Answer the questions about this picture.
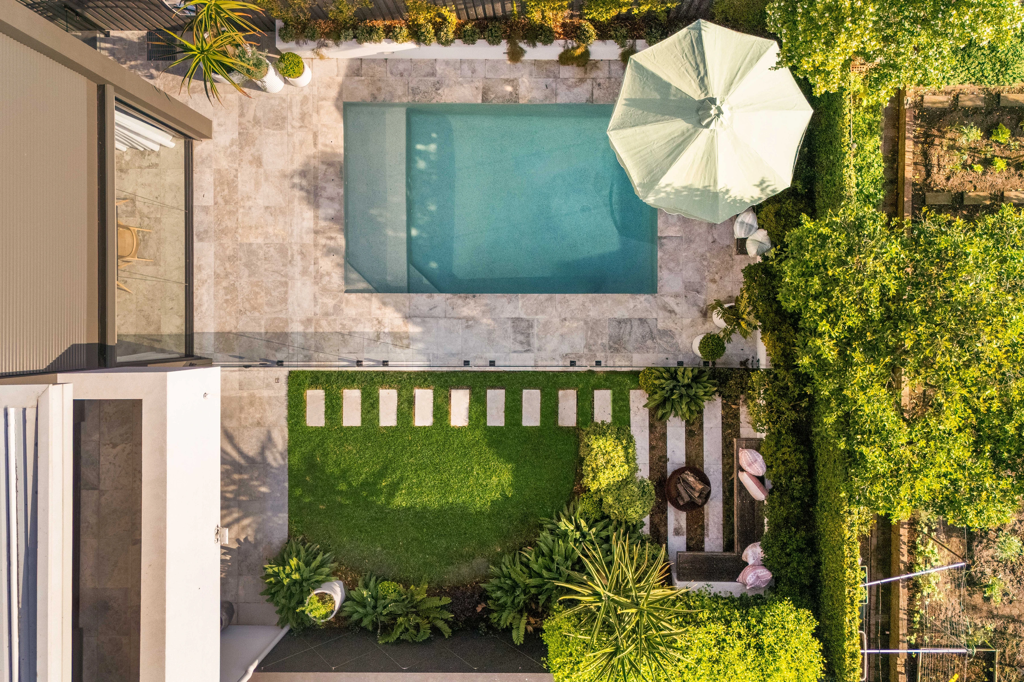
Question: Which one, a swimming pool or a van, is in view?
swimming pool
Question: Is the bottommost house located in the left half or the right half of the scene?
left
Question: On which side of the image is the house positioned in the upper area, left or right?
left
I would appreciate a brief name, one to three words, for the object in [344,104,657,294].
swimming pool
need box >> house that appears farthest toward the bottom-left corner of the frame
[0,367,221,682]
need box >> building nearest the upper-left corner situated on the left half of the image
[0,0,212,382]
